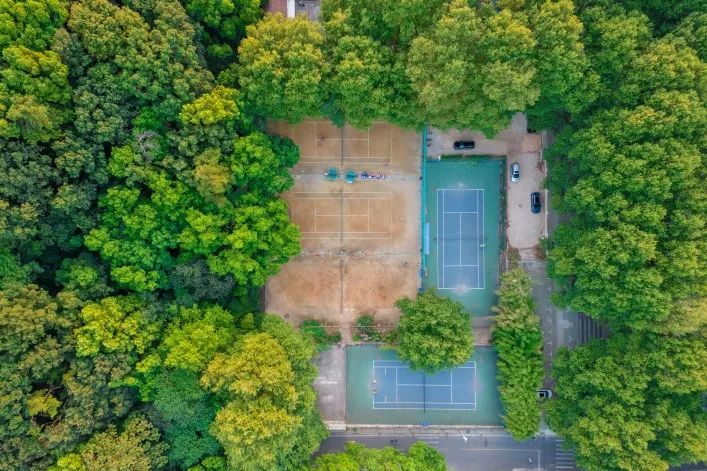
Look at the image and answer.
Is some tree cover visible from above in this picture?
Yes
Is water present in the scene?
No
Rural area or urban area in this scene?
rural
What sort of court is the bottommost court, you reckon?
tennis court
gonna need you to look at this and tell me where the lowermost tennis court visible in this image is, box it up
[347,345,503,425]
